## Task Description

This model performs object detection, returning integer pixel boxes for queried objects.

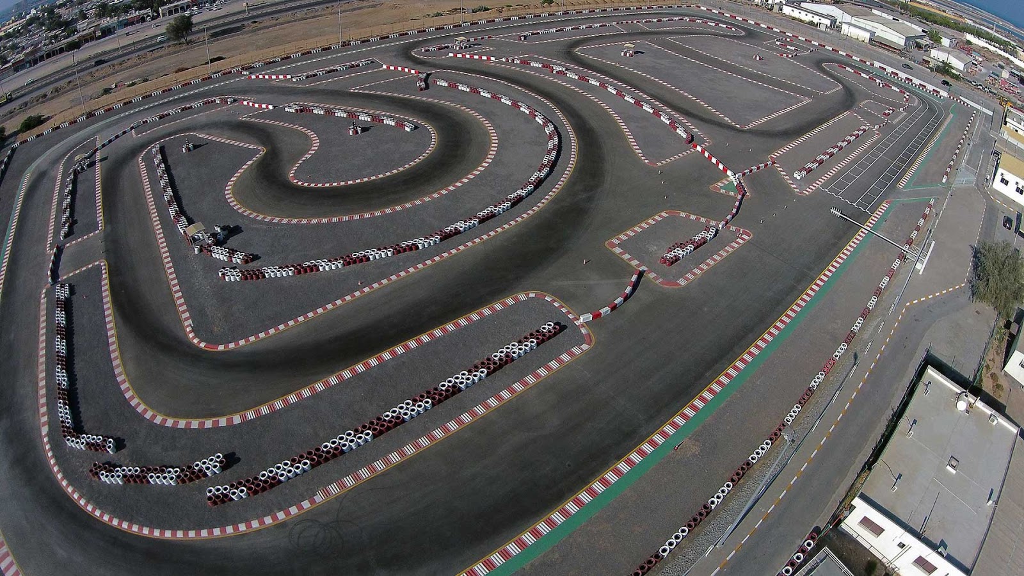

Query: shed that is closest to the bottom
[795,547,853,576]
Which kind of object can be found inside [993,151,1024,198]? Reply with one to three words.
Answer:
building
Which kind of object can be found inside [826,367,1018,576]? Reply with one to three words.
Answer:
building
